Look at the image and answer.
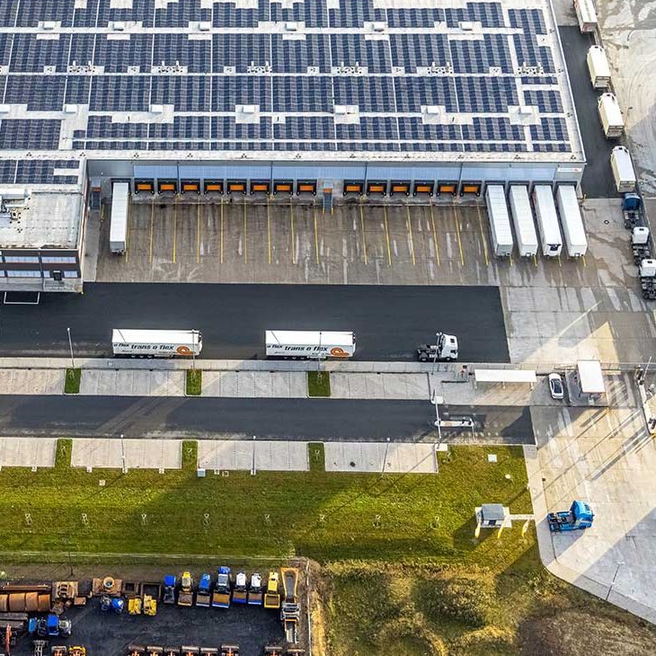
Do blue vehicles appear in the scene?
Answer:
Yes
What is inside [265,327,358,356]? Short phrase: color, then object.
white trailer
